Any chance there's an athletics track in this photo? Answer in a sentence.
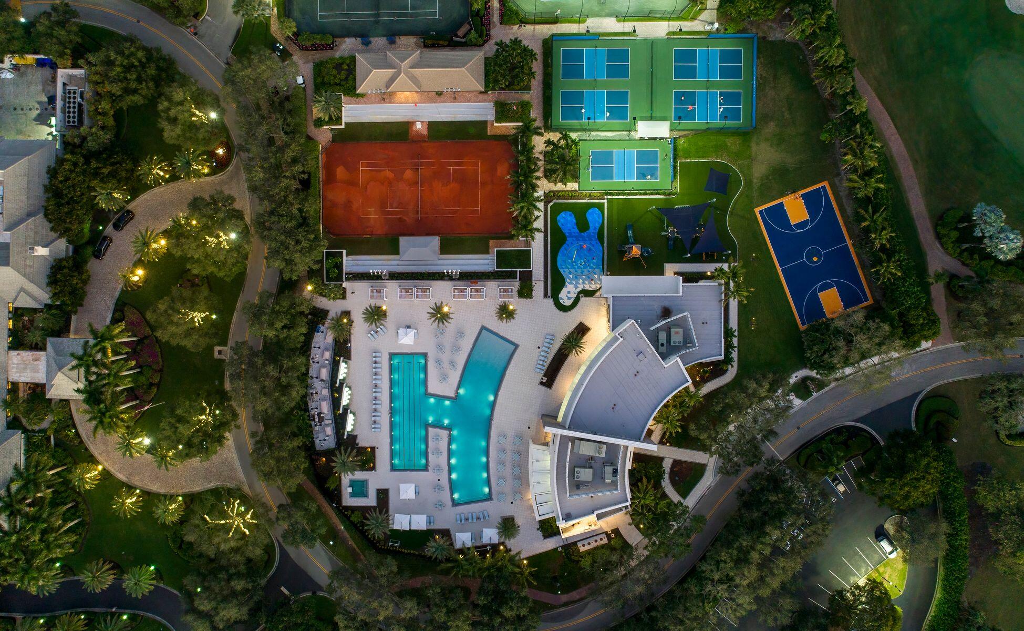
No, the scene contains no athletics track.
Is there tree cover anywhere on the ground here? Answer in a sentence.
Yes, some tree cover is visible.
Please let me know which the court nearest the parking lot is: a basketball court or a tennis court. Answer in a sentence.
I'd say the court nearest the parking lot is a basketball court.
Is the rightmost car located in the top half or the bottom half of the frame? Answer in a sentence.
It is in the bottom half that the rightmost car appears.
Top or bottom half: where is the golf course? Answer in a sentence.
The top half of the photo is where the golf course is.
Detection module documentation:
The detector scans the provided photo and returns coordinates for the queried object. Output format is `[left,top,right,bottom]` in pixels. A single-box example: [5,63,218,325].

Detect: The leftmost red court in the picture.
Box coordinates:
[322,140,519,236]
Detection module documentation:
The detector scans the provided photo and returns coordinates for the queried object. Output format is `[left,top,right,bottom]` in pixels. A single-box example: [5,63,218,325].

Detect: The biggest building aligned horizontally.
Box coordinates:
[356,50,484,93]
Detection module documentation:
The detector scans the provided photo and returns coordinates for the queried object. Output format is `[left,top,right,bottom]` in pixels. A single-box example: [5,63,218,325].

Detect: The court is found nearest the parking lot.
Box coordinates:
[755,182,873,329]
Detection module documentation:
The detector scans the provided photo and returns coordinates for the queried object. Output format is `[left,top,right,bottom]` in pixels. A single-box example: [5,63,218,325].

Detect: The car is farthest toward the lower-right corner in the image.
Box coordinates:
[876,533,899,558]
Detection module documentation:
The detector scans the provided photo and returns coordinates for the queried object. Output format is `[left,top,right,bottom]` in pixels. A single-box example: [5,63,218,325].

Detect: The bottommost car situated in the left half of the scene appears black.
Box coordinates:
[95,235,114,260]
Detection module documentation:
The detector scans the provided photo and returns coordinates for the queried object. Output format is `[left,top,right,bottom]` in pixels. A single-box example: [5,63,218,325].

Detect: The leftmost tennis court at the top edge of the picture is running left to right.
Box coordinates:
[286,0,471,36]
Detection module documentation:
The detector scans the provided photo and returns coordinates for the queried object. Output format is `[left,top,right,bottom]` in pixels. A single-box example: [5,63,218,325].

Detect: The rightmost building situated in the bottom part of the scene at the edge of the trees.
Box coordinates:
[542,276,723,539]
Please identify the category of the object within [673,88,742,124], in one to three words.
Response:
sports court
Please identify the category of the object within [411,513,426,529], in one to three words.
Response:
umbrella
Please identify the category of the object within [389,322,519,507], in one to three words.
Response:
swimming pool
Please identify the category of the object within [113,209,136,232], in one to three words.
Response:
car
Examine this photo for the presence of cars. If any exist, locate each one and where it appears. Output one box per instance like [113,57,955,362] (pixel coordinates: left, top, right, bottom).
[113,209,136,232]
[876,533,899,558]
[95,235,114,260]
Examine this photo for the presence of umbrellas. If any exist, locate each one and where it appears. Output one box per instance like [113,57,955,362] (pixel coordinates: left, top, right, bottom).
[361,36,371,46]
[394,513,410,529]
[386,35,396,45]
[456,531,471,547]
[411,513,426,529]
[482,527,497,543]
[400,328,416,344]
[400,483,415,498]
